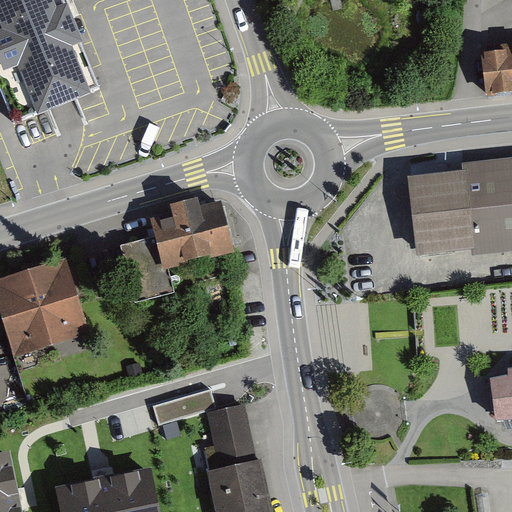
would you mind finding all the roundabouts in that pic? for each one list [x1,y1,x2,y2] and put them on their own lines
[232,106,346,220]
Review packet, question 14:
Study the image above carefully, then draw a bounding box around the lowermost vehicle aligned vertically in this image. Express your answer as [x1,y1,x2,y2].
[109,416,122,440]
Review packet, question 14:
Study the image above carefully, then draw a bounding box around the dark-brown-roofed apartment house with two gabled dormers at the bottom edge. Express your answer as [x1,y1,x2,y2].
[55,467,160,512]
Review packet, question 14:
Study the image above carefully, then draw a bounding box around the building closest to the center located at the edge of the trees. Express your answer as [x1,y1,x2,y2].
[150,198,234,269]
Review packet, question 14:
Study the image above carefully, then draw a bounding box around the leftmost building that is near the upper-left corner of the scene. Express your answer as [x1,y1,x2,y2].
[0,0,99,136]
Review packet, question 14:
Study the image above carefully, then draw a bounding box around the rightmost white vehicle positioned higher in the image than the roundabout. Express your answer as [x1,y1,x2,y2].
[232,7,248,30]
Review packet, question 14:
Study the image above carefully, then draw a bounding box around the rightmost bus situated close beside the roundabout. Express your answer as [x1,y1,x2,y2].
[289,205,311,268]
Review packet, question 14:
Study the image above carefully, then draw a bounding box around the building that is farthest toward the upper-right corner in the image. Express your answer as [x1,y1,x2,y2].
[482,44,512,96]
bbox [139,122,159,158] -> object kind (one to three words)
vehicle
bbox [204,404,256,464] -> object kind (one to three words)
barn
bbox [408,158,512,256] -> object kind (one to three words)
building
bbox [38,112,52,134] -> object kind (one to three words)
car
